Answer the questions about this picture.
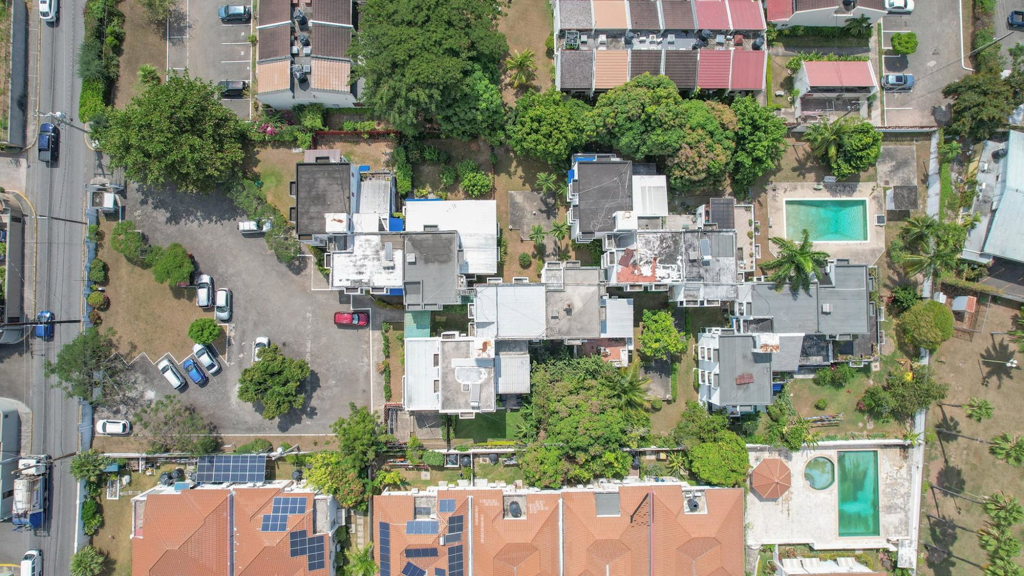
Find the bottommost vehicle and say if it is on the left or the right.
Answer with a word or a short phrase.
left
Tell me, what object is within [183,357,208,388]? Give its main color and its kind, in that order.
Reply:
blue car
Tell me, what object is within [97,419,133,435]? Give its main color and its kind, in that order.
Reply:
white car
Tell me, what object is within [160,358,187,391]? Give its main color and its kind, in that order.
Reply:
white car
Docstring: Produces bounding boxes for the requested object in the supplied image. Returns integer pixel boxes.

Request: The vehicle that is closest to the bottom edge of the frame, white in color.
[20,548,42,576]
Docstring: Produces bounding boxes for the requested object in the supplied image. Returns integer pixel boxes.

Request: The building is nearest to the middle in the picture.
[468,277,545,338]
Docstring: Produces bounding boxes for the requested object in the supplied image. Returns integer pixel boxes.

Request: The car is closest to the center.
[334,310,370,327]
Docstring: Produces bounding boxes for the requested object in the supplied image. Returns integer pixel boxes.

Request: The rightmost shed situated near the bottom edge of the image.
[894,538,913,569]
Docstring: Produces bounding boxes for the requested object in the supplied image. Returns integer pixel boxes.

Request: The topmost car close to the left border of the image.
[40,0,60,24]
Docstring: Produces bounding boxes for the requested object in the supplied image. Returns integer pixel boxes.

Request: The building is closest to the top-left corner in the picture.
[90,182,128,222]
